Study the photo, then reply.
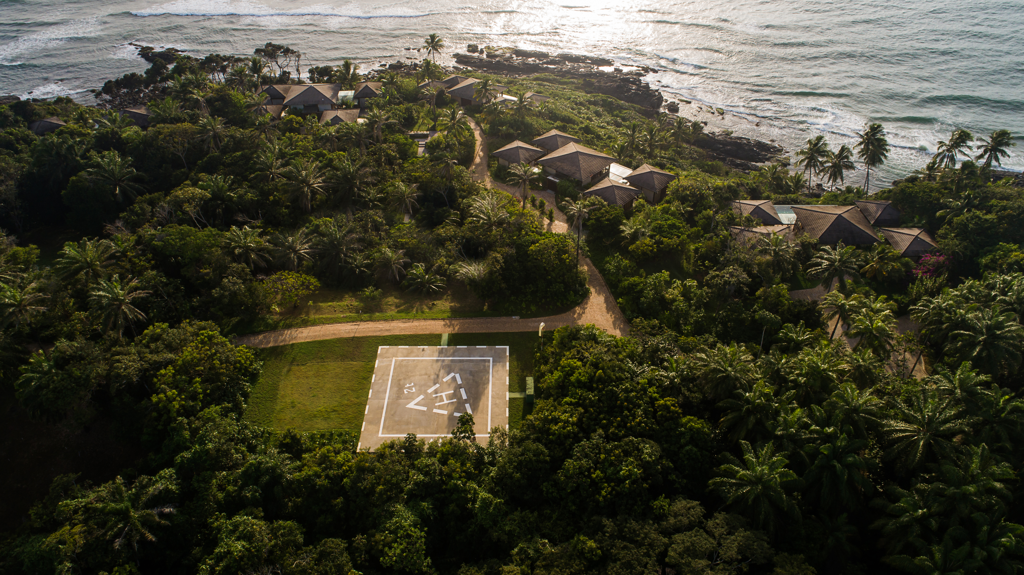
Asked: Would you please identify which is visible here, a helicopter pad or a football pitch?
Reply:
helicopter pad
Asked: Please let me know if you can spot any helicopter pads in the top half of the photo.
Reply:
No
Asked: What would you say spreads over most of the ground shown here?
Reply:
trees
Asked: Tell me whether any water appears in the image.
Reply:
Yes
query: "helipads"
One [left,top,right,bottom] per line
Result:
[358,346,509,453]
